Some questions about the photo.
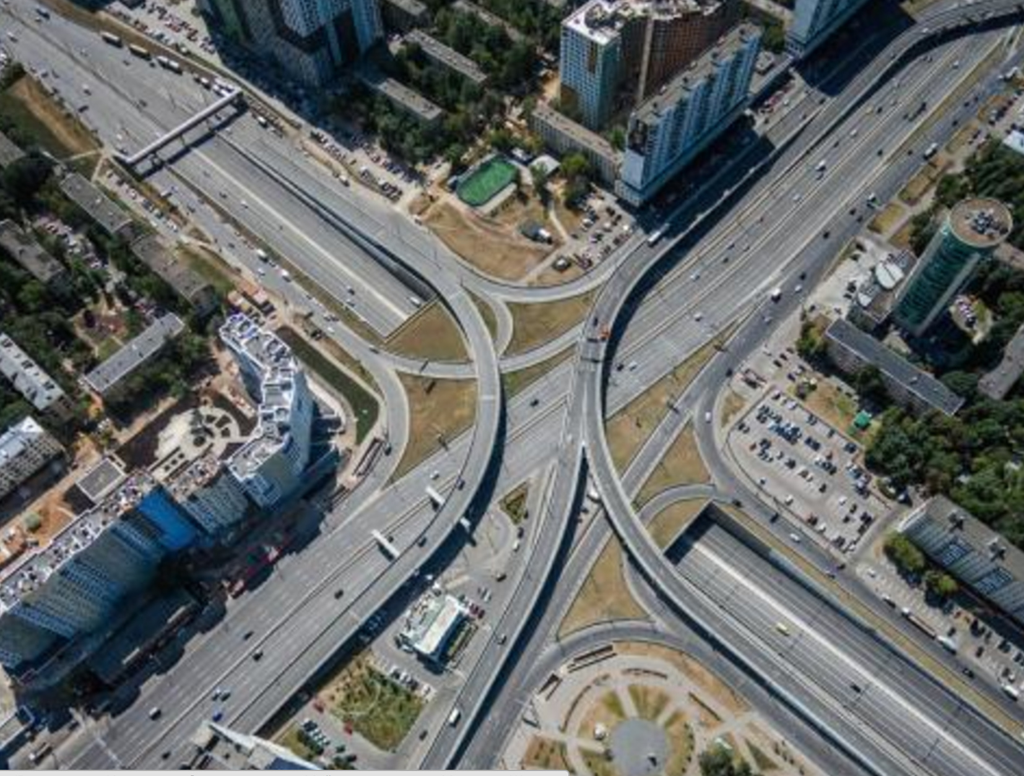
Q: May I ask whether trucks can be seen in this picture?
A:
Yes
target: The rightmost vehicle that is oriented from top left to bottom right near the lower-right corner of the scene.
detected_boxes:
[1001,684,1024,706]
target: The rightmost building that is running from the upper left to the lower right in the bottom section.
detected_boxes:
[904,495,1024,615]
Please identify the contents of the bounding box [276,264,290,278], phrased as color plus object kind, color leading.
white vehicle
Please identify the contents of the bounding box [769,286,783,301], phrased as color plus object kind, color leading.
white vehicle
